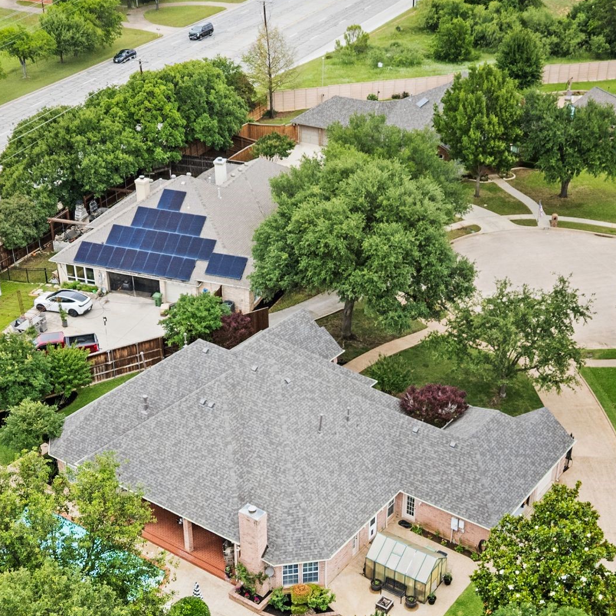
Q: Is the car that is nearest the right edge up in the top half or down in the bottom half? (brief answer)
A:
top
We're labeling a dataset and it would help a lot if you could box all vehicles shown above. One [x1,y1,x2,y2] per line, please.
[33,287,93,316]
[35,330,106,363]
[109,47,137,63]
[186,19,215,39]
